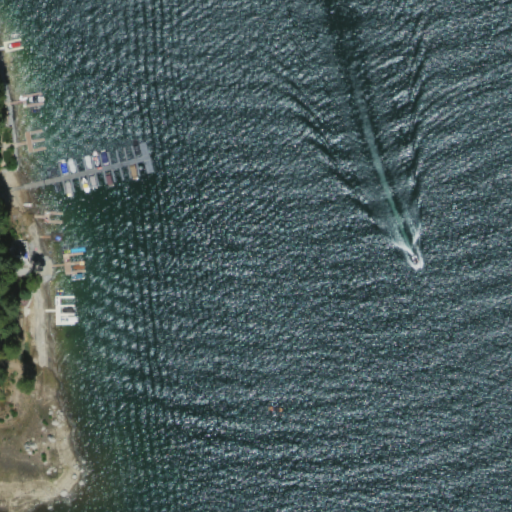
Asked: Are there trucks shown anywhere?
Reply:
No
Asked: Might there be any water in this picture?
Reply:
Yes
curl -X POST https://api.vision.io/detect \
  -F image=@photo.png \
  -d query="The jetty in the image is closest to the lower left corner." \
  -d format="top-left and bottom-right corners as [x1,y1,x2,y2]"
[44,296,78,326]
